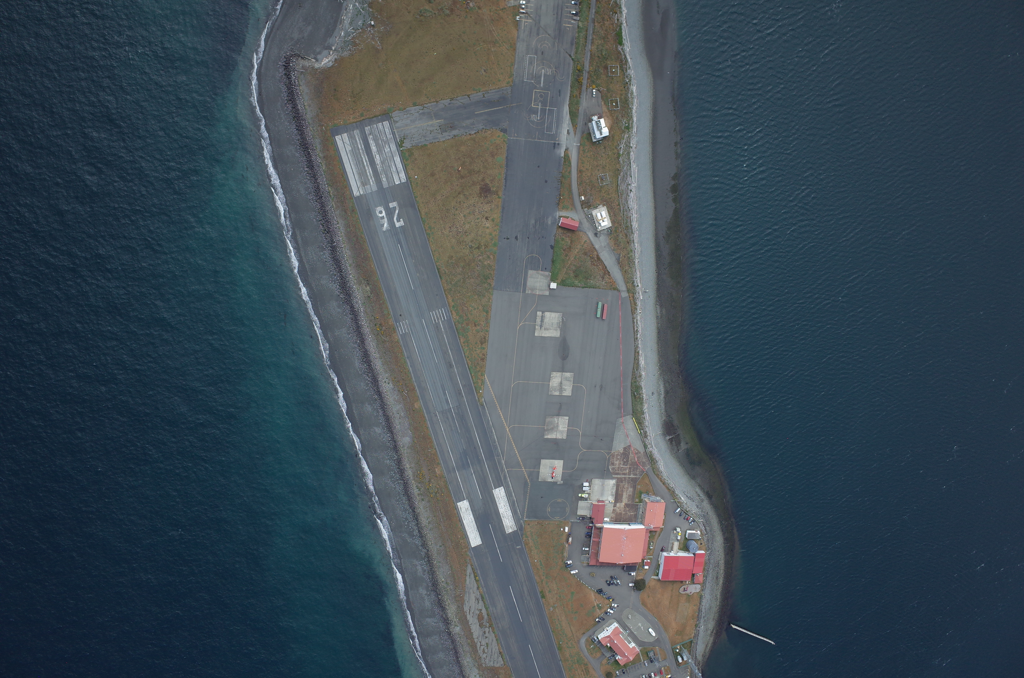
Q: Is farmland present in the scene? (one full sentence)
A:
No, there's no farmland in this view.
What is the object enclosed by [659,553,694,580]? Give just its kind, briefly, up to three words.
building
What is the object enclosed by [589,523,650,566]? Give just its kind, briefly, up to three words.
hangar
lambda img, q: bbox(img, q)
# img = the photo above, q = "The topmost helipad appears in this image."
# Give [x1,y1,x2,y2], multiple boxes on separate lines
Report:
[526,270,551,295]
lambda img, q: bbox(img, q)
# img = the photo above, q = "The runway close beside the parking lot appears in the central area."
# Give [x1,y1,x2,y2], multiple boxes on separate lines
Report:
[330,114,565,678]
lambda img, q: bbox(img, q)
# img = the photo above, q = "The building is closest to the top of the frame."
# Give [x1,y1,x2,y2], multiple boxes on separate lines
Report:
[589,113,609,142]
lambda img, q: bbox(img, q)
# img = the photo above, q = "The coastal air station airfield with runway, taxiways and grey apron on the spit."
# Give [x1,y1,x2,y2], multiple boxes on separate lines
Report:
[330,0,651,678]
